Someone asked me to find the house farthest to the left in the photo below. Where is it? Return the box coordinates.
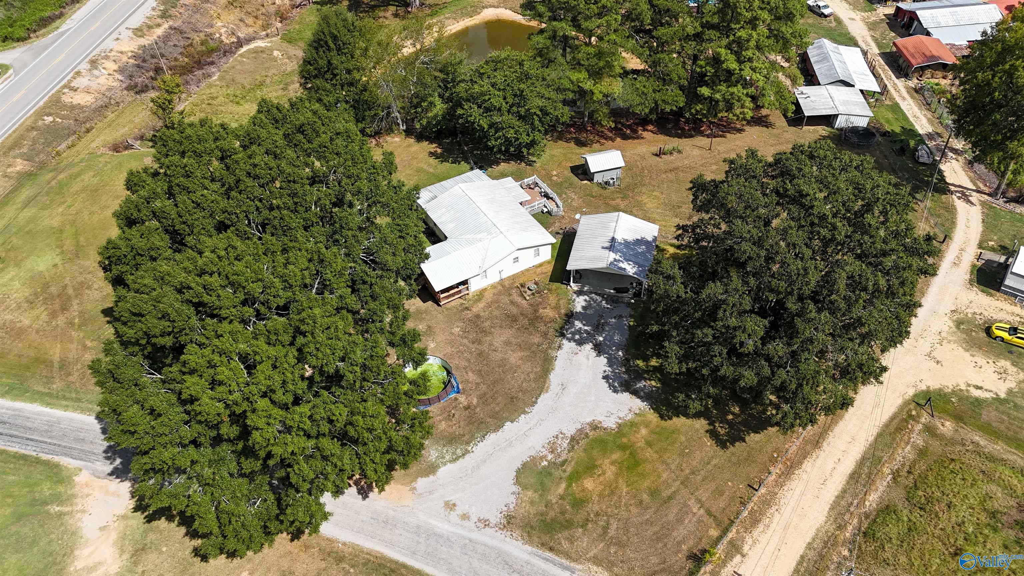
[412,169,557,308]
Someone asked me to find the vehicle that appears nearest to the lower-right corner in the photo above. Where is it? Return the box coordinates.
[988,322,1024,348]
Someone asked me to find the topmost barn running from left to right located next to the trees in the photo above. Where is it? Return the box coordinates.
[895,0,1005,40]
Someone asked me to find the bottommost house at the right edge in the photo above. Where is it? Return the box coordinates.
[995,244,1024,312]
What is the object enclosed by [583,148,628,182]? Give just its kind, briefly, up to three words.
shed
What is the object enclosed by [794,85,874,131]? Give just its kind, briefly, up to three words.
shed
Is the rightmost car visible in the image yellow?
Yes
